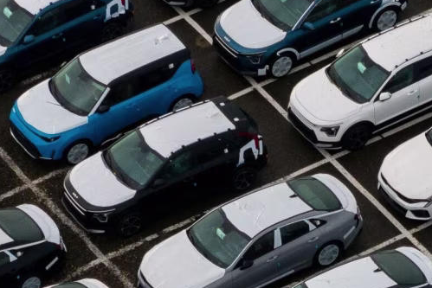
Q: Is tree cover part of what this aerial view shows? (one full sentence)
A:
No, tree cover can't be seen anywhere here.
